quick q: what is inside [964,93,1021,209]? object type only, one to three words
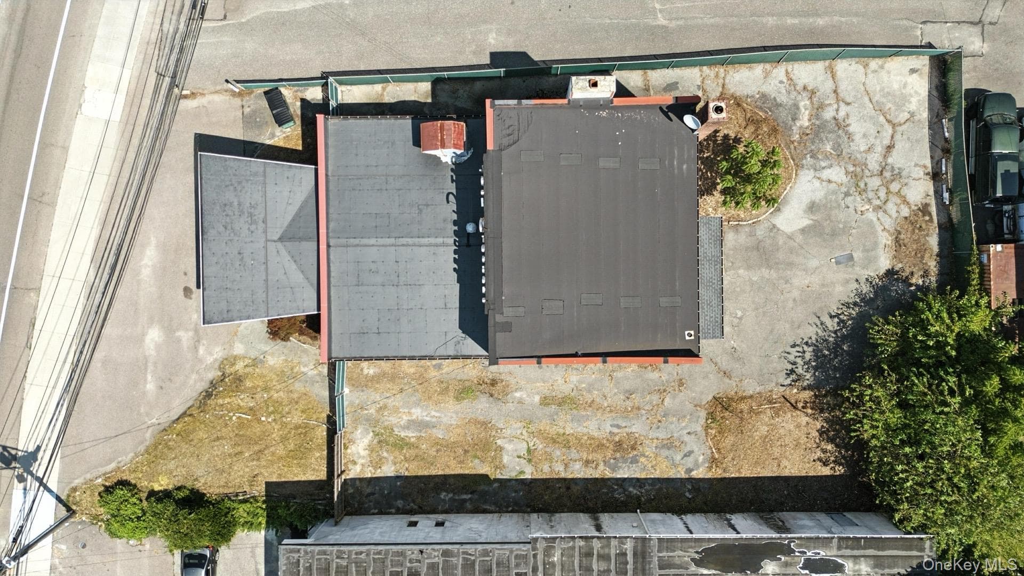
truck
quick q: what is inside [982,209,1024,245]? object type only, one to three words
trailer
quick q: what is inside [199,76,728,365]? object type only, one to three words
building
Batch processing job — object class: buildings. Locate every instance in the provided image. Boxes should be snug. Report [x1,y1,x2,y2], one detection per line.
[199,76,728,365]
[281,509,933,576]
